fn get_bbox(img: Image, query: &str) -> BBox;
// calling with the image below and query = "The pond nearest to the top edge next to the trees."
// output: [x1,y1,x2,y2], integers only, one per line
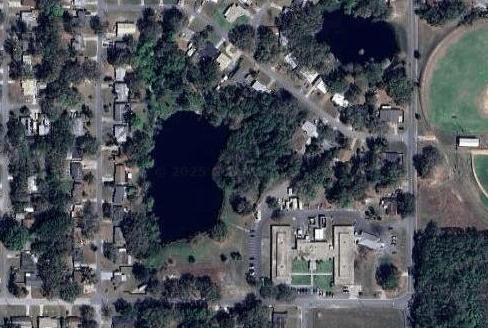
[317,9,398,64]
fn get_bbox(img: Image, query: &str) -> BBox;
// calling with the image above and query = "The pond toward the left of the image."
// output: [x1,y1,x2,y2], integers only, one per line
[150,111,229,242]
